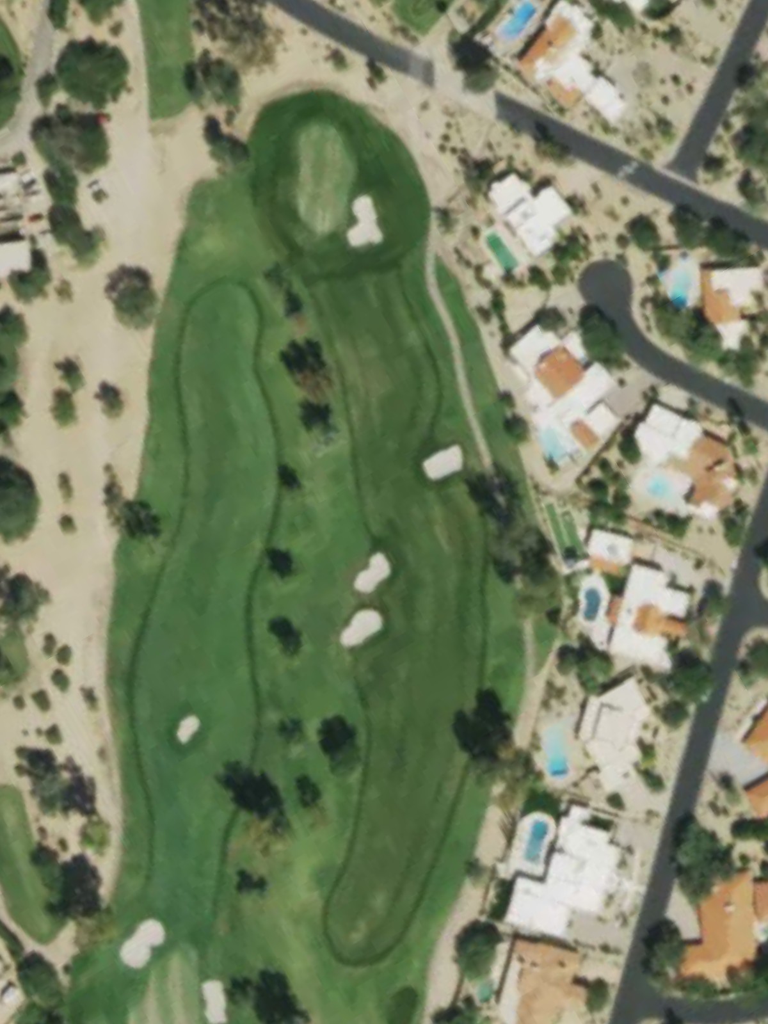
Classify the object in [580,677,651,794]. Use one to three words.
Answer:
house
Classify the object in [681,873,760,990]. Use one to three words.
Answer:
house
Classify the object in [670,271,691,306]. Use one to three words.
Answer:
swimming pool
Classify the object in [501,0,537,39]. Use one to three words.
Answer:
swimming pool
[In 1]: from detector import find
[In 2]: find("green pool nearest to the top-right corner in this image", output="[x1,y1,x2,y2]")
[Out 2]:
[486,231,518,270]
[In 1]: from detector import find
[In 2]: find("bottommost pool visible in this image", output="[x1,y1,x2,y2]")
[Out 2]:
[477,983,493,1002]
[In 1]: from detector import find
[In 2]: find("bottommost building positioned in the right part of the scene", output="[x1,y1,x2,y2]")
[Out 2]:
[514,941,590,1024]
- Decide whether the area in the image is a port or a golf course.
golf course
